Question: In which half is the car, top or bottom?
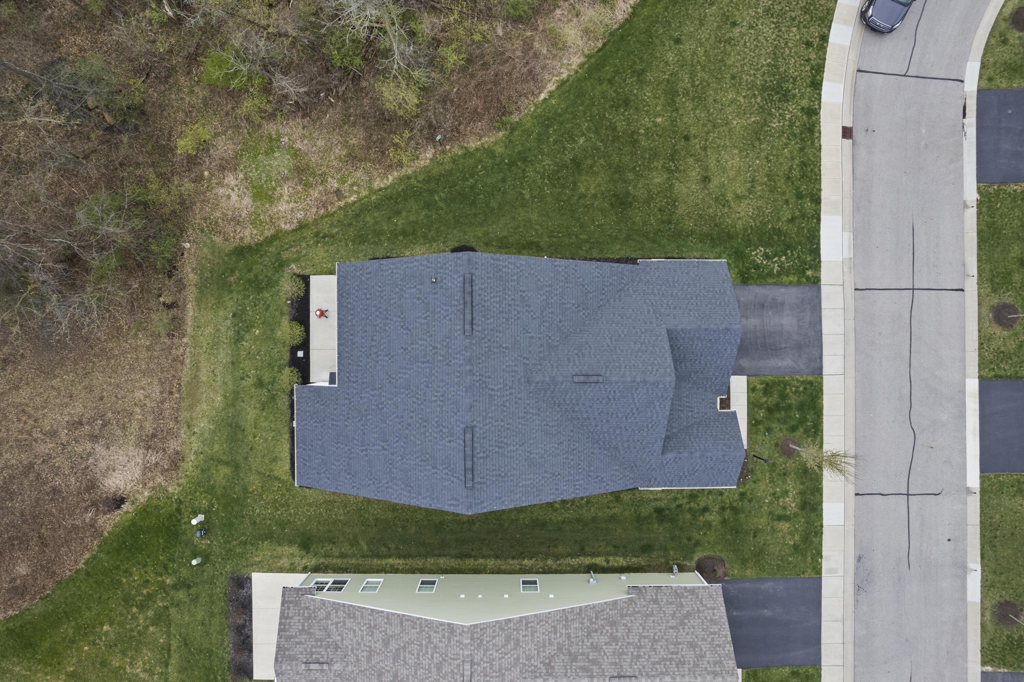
top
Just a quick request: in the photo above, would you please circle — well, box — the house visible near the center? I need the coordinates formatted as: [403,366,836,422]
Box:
[293,251,745,514]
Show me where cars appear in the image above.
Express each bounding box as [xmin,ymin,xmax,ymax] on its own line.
[862,0,916,35]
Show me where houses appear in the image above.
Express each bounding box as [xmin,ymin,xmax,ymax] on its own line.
[272,571,739,682]
[293,251,745,514]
